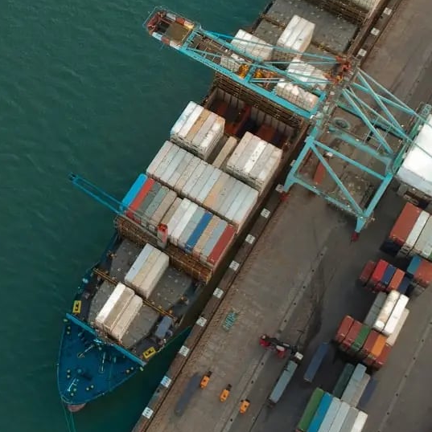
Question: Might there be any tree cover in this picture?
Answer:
No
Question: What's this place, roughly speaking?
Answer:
port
